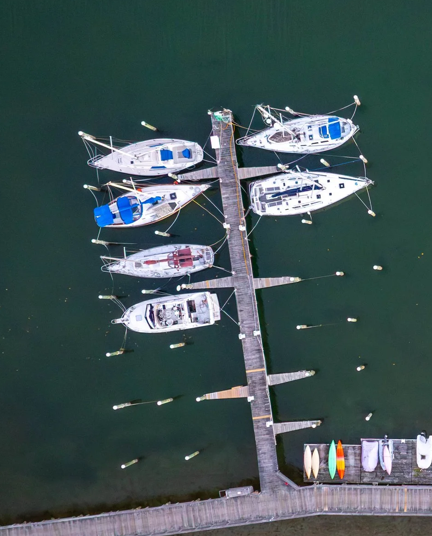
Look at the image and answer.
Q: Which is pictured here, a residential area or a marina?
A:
marina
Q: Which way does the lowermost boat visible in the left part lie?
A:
horizontally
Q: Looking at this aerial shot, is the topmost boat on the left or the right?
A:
right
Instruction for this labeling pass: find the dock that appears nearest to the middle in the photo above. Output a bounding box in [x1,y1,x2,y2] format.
[192,276,235,289]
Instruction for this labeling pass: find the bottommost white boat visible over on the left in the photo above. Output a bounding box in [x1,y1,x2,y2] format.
[111,292,221,333]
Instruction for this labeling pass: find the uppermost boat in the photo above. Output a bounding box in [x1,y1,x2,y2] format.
[231,103,359,153]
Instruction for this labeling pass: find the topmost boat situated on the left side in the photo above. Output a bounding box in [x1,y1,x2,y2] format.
[81,132,204,176]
